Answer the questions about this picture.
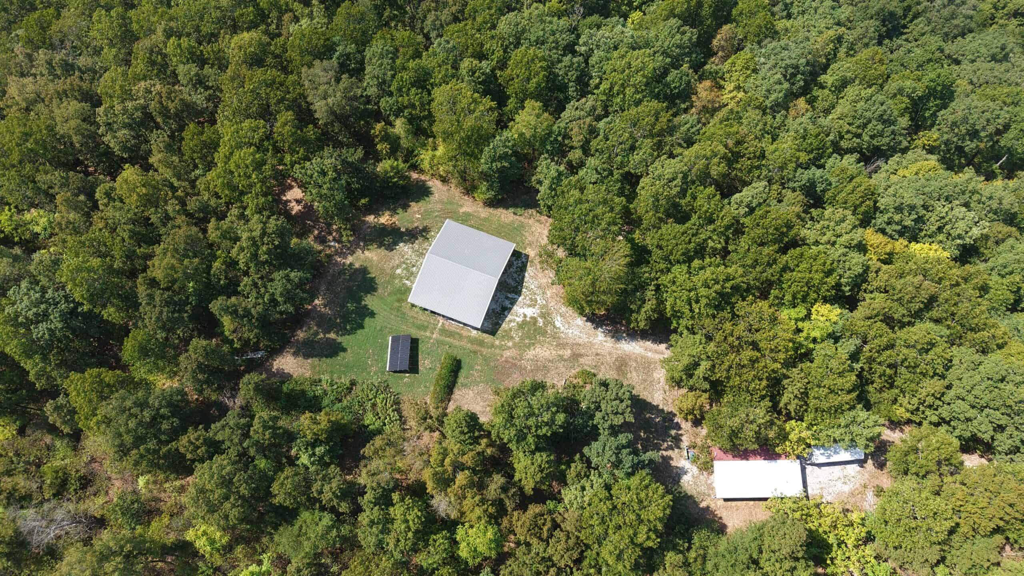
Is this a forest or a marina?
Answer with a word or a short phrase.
forest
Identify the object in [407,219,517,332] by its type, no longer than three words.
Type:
barn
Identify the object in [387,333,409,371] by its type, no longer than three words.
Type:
solar array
